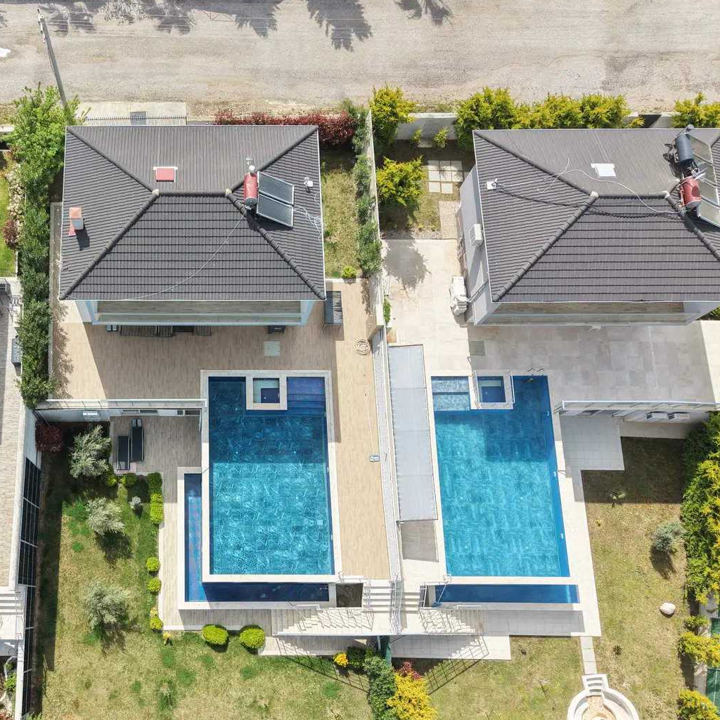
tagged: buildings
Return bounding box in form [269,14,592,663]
[460,127,720,325]
[57,124,327,325]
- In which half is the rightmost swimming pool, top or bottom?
bottom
